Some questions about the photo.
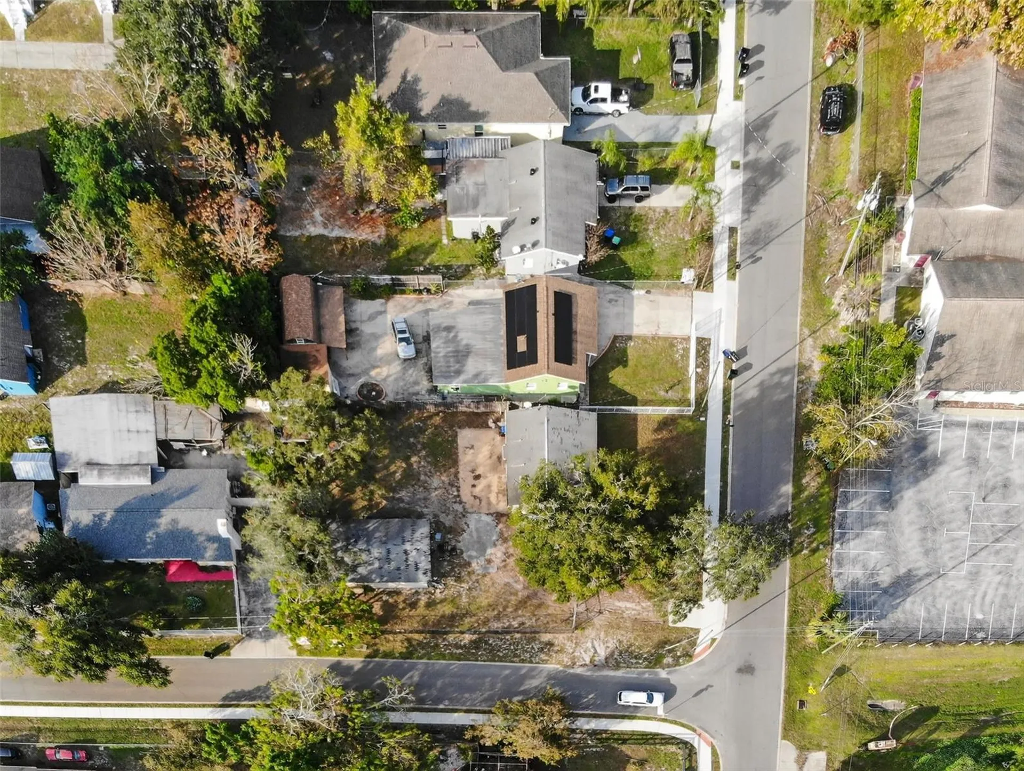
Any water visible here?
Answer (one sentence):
No, the scene doesn't show any water.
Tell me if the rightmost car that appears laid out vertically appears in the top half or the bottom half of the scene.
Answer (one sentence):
You can find the rightmost car that appears laid out vertically in the top half.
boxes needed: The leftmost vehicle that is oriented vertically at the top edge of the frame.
[671,36,696,99]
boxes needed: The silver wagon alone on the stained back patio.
[391,314,417,362]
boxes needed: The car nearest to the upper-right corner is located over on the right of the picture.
[820,85,847,138]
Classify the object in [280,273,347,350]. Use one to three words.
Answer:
shed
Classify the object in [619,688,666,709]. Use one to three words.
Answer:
car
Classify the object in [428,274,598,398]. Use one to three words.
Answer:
house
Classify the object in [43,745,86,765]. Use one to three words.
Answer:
car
